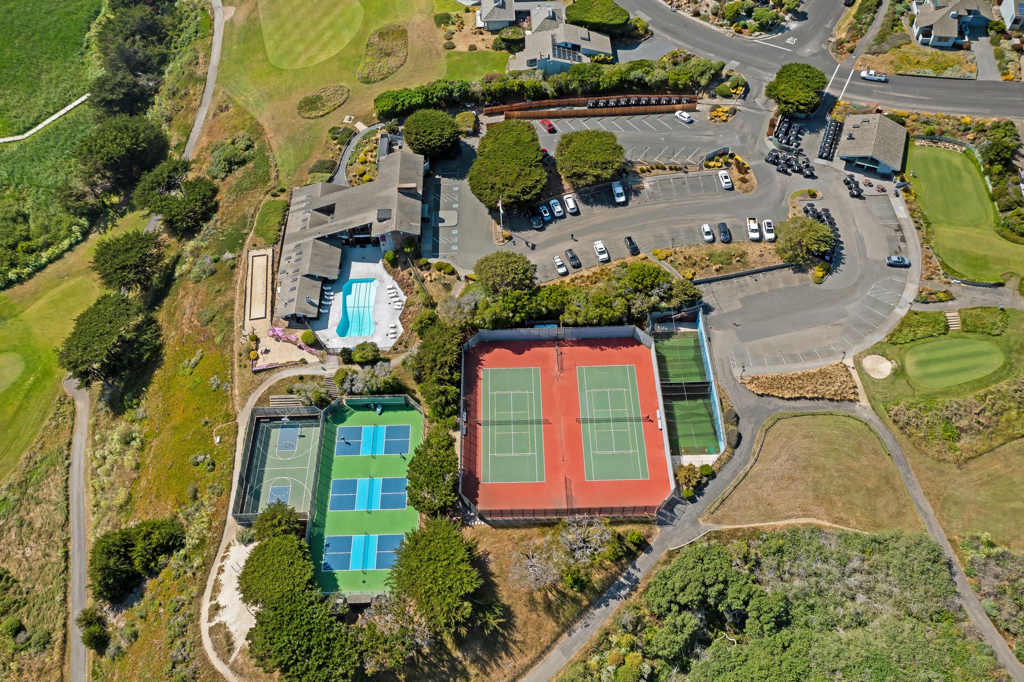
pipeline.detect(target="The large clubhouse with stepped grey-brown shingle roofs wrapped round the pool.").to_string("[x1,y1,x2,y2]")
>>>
[277,130,430,324]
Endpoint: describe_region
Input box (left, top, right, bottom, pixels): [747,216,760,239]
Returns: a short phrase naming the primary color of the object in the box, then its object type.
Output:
white vehicle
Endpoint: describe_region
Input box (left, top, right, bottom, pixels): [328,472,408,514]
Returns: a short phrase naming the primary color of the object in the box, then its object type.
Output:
blue sports court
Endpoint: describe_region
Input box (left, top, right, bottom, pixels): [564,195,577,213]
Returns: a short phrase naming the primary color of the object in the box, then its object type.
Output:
white vehicle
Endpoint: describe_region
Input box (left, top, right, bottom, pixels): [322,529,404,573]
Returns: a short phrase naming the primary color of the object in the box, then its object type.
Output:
blue sports court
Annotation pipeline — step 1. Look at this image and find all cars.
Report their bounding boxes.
[524,207,542,228]
[761,220,775,239]
[552,256,567,275]
[700,223,713,242]
[565,249,580,268]
[886,256,910,268]
[717,223,731,242]
[624,235,639,254]
[549,200,563,217]
[675,111,691,124]
[747,216,760,239]
[564,195,577,213]
[540,119,556,133]
[612,181,626,203]
[593,241,608,261]
[718,171,731,188]
[538,205,550,221]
